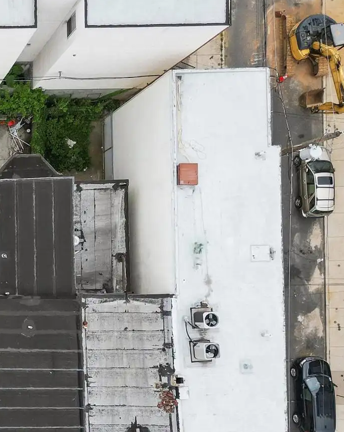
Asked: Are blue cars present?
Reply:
No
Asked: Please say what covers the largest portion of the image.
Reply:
buildings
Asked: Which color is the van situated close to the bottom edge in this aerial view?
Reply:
black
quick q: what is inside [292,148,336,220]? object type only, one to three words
car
